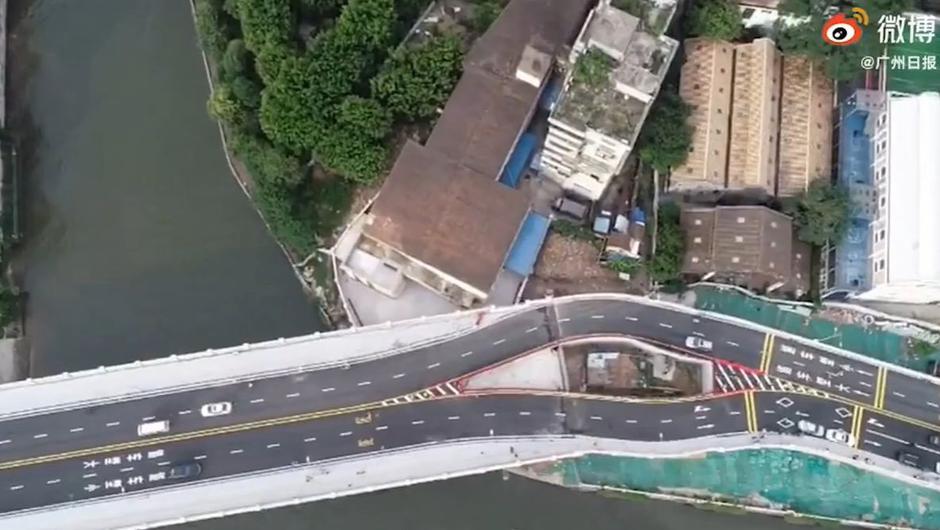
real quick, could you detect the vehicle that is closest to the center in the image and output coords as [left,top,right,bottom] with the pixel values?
[554,196,592,220]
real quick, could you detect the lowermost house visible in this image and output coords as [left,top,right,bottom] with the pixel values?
[588,353,639,389]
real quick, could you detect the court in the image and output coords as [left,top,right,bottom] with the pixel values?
[838,96,873,292]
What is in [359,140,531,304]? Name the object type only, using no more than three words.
building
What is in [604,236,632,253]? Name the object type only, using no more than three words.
shed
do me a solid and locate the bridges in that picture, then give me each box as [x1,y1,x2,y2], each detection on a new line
[0,293,940,530]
